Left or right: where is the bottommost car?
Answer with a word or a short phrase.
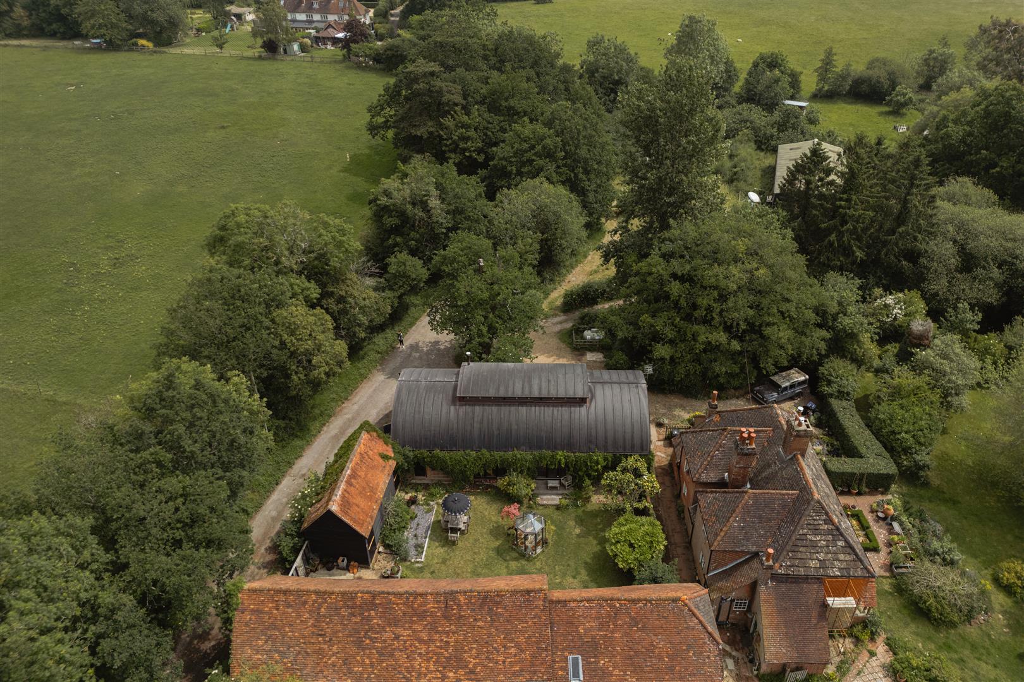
right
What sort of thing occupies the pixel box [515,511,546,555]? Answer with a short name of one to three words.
greenhouse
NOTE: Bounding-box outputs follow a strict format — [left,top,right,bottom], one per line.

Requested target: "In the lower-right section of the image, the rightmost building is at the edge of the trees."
[665,385,881,682]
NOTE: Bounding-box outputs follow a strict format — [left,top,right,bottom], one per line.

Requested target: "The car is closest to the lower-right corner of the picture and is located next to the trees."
[755,366,813,404]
